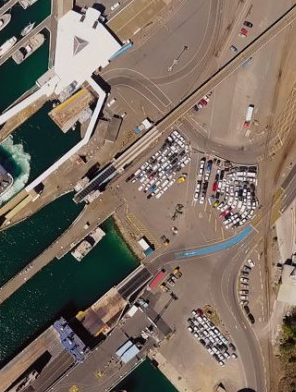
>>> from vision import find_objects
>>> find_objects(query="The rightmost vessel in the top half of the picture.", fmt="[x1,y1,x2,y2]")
[48,87,95,134]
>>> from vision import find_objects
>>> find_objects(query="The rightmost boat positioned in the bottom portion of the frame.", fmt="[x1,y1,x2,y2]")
[71,228,105,261]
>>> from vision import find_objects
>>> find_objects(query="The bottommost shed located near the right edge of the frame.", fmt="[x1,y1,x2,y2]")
[274,285,296,307]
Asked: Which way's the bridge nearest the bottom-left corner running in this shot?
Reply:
diagonally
